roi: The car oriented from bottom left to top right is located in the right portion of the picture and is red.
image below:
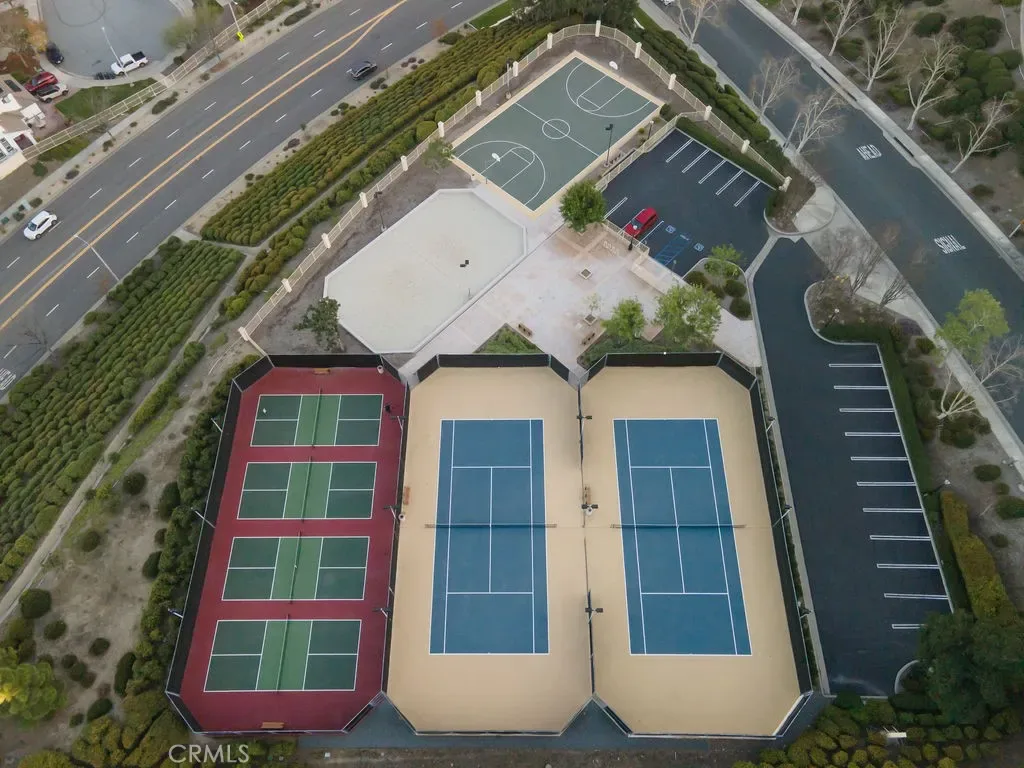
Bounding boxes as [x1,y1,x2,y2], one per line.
[626,206,660,235]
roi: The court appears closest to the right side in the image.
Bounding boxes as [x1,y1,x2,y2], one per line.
[582,368,803,737]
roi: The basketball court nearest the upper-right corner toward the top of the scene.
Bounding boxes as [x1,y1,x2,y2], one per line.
[444,52,659,217]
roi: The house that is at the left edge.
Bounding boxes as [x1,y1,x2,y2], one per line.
[0,86,50,160]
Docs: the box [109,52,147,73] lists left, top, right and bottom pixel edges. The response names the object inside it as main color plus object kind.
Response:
white truck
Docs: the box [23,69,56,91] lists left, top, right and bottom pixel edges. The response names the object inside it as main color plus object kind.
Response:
red car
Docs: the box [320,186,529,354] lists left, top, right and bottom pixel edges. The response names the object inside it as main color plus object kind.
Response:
white sports court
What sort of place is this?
sports ground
